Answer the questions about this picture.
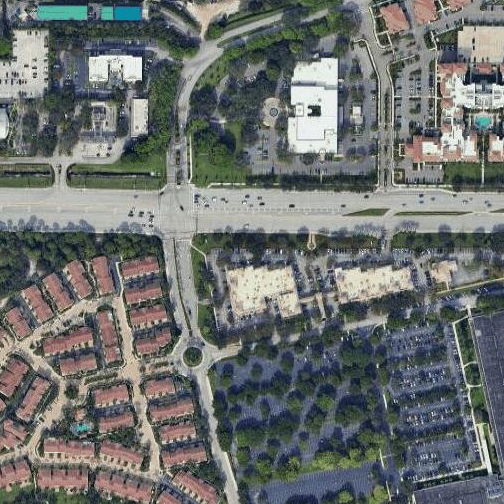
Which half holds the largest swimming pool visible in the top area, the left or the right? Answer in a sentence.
It is on the right.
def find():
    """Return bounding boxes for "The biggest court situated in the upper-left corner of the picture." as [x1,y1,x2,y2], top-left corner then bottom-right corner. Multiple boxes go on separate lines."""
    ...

[37,5,87,20]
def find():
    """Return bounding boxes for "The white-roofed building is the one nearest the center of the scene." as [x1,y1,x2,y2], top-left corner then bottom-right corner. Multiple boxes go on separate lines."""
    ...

[228,266,301,318]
